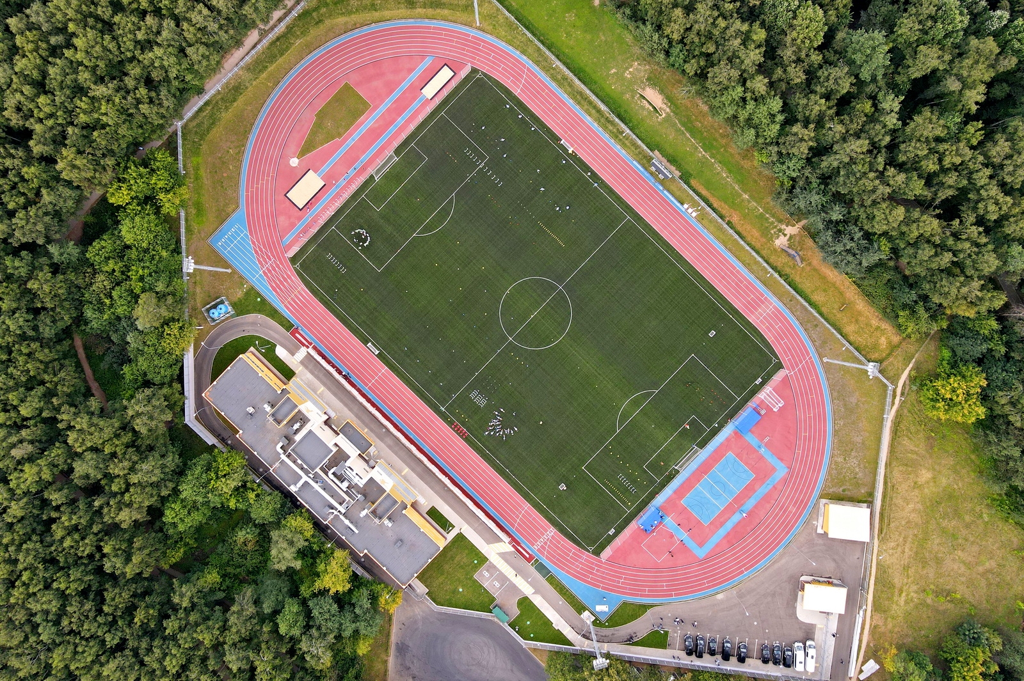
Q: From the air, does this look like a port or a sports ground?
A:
sports ground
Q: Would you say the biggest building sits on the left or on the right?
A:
left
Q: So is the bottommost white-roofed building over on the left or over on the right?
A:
right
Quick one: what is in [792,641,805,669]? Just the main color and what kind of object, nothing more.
white vehicle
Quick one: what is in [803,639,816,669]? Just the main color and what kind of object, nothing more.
white vehicle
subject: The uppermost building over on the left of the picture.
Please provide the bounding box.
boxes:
[200,352,446,590]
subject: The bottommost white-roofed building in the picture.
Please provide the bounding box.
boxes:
[800,581,852,616]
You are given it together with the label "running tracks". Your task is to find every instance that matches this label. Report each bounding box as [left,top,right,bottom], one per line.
[203,17,834,623]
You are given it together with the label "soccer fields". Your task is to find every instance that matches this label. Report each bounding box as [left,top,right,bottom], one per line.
[288,66,784,558]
